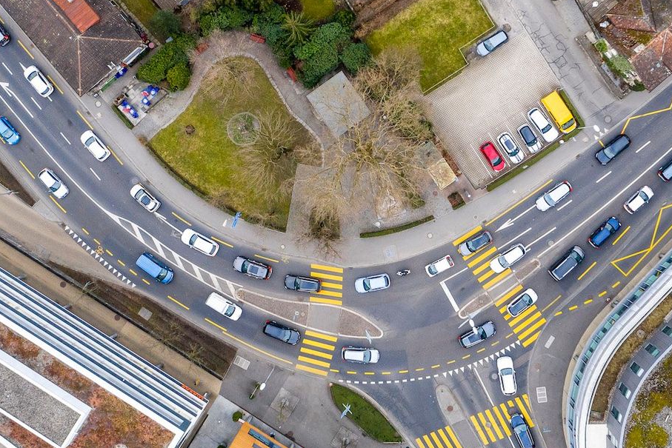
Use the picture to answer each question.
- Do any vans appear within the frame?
Yes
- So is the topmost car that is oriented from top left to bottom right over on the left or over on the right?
left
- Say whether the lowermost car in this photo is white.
No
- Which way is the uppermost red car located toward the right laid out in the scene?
at an angle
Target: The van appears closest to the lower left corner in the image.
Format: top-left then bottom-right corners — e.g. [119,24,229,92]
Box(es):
[134,252,174,283]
